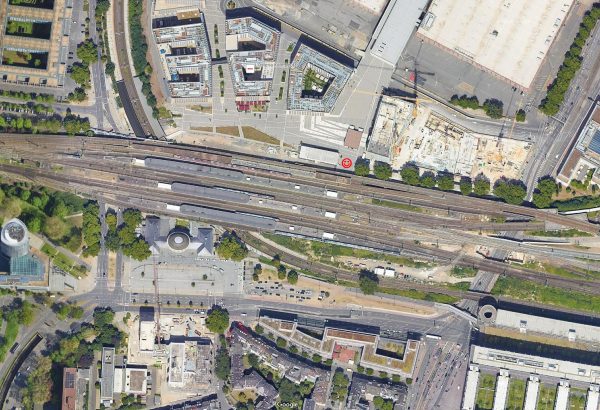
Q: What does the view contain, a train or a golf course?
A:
train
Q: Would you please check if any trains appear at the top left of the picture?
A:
No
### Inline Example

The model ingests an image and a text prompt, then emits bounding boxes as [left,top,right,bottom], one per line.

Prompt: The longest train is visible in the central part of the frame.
[274,230,401,258]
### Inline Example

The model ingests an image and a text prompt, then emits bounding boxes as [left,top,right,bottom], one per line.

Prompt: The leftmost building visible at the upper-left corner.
[0,0,73,92]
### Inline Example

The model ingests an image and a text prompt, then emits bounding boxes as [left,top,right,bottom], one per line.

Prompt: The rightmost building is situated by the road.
[558,102,600,184]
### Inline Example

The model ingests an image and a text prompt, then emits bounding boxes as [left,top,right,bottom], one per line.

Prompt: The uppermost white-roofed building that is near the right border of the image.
[416,0,577,94]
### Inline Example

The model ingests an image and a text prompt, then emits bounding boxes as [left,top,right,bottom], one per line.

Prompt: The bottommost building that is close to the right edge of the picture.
[472,346,600,385]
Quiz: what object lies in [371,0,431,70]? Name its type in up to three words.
building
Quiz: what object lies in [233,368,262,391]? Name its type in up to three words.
house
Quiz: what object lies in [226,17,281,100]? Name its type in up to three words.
building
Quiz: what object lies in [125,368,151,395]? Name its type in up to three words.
house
